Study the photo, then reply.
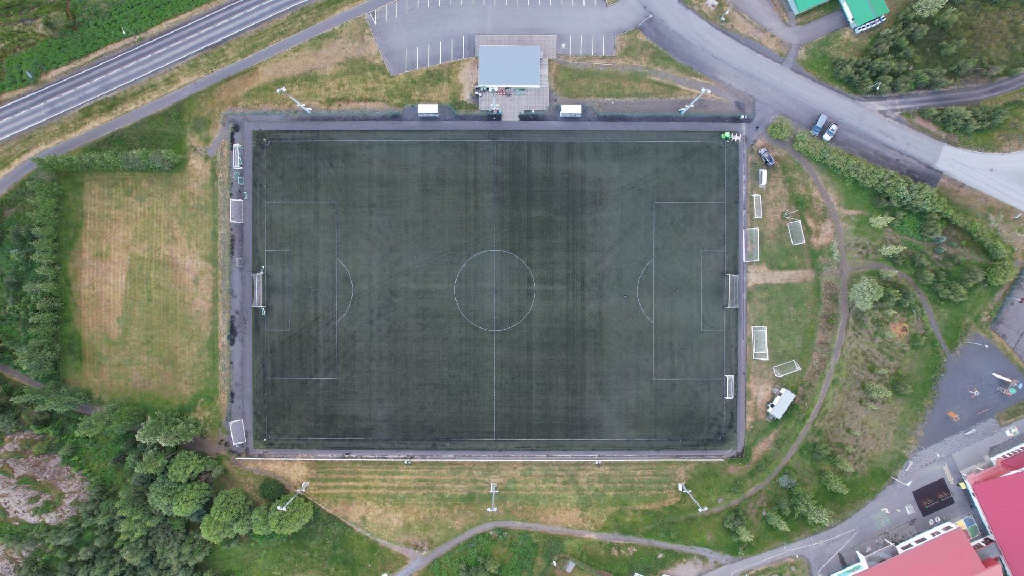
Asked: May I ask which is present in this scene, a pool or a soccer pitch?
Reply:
soccer pitch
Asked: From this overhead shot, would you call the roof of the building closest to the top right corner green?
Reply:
Yes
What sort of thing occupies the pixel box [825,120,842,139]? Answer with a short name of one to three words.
car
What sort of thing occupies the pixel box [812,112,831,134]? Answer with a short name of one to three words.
vehicle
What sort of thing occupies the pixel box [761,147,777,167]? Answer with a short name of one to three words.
car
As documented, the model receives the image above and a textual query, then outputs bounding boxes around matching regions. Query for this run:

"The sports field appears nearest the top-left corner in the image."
[80,173,213,398]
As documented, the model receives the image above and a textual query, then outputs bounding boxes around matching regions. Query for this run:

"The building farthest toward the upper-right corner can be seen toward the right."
[839,0,889,38]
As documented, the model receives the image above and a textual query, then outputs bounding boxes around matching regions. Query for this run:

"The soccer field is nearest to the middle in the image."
[252,130,738,449]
